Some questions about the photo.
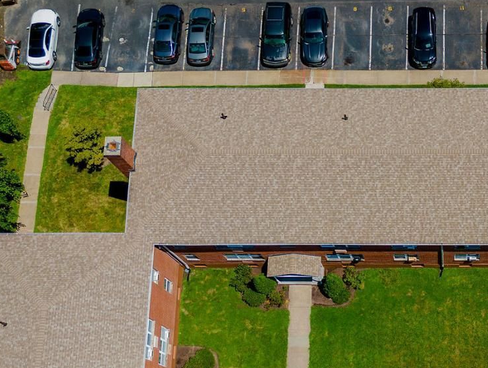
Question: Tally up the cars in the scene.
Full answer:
There are 7 cars in the image.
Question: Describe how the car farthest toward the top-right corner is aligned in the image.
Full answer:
The car farthest toward the top-right corner is oriented vertically.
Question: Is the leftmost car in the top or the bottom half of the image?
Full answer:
Seen from above, the leftmost car lies in the top half of the view.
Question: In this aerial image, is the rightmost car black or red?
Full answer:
The rightmost car is black.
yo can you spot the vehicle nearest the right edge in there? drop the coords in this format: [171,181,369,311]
[408,7,438,69]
